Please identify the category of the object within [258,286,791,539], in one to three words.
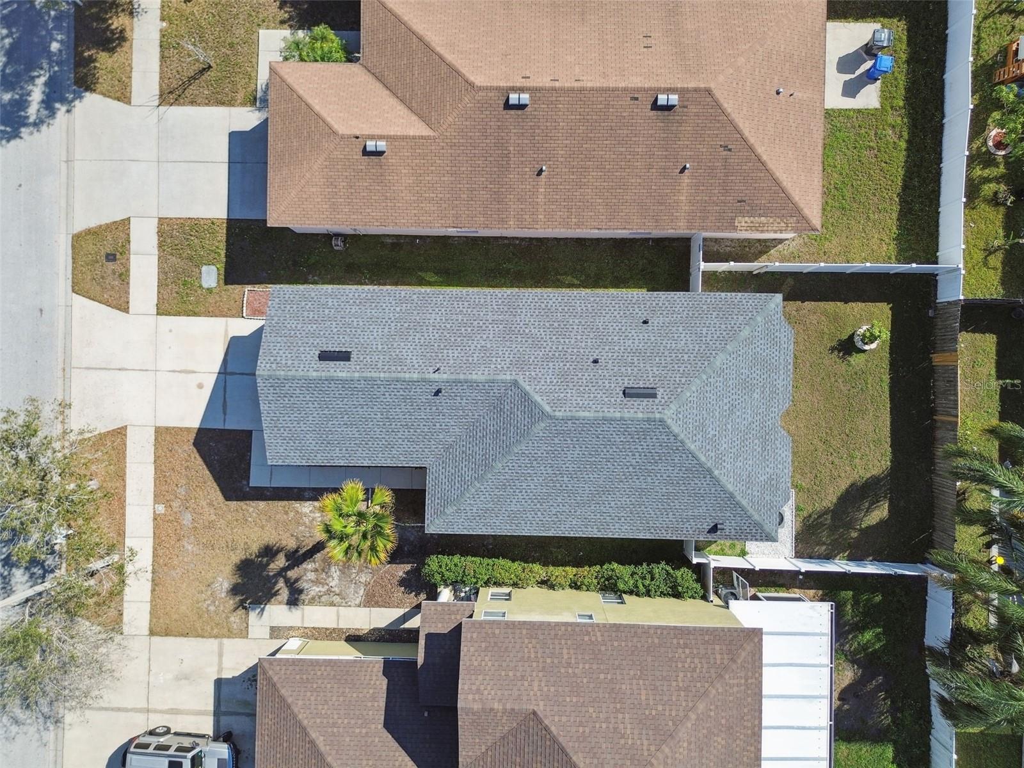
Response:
house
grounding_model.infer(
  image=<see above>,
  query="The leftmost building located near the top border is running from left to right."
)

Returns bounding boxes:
[267,0,824,239]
